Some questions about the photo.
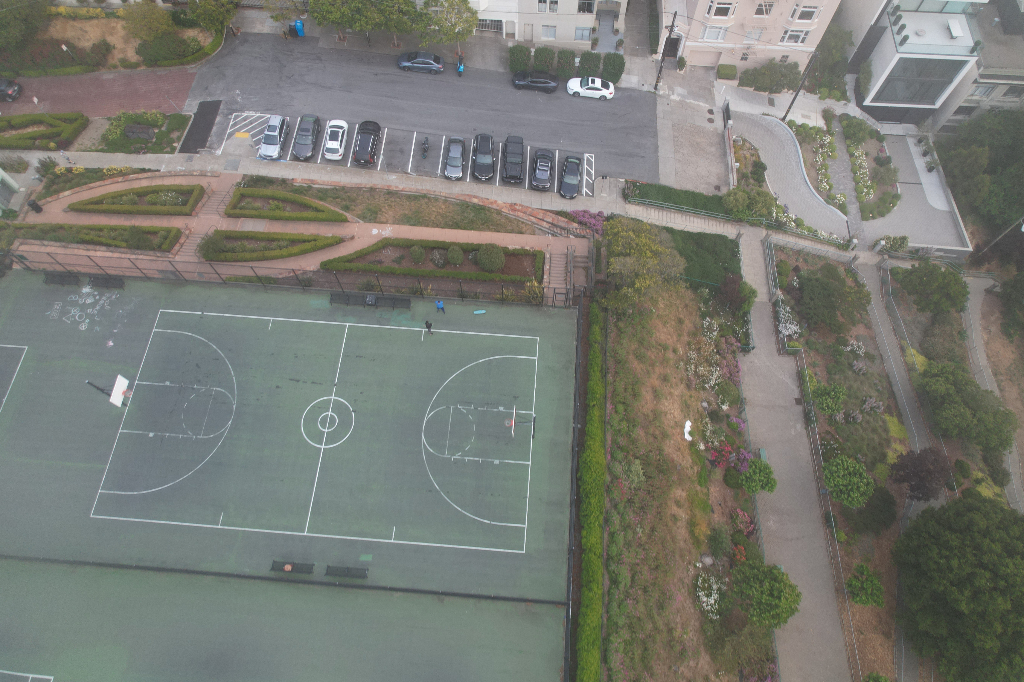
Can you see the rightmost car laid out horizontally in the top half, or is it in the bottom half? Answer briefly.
top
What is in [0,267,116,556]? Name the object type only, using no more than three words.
tennis court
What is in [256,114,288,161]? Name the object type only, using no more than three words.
car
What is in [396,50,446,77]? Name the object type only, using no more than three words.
car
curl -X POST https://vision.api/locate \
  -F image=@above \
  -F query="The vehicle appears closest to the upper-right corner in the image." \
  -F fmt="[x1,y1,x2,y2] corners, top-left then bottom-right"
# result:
[566,76,616,103]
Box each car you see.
[557,155,583,200]
[500,133,526,184]
[289,116,321,163]
[396,50,446,77]
[529,149,554,193]
[321,120,351,164]
[509,70,560,97]
[566,76,616,103]
[256,114,288,161]
[440,137,467,181]
[352,122,383,168]
[470,132,496,182]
